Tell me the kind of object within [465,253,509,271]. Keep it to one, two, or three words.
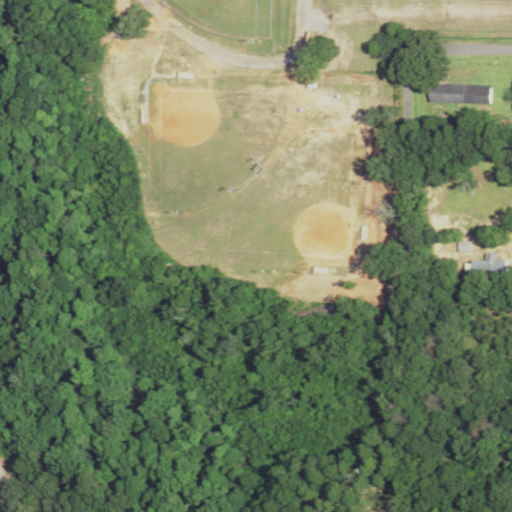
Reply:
house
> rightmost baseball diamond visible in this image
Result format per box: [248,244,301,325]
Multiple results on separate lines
[226,131,354,265]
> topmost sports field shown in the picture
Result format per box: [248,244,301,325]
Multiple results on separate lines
[162,0,271,40]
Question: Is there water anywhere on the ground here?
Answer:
No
